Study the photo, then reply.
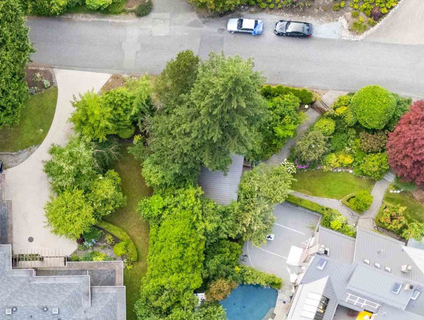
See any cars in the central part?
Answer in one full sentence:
No, I see no car in the central part.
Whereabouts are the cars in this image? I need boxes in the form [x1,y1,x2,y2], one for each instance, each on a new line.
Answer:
[227,17,263,35]
[0,159,7,173]
[273,20,315,37]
